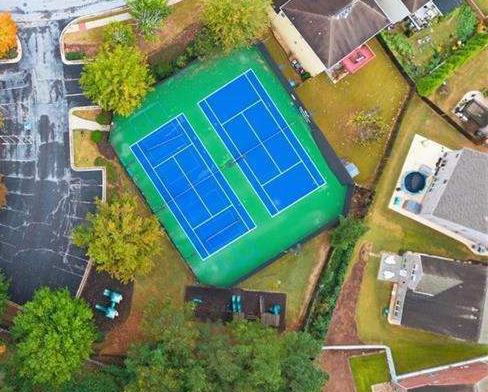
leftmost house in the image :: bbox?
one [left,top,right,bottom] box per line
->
[266,0,391,73]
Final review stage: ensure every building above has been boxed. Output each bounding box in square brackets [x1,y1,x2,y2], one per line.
[424,147,488,237]
[266,0,391,73]
[391,375,478,392]
[390,254,488,343]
